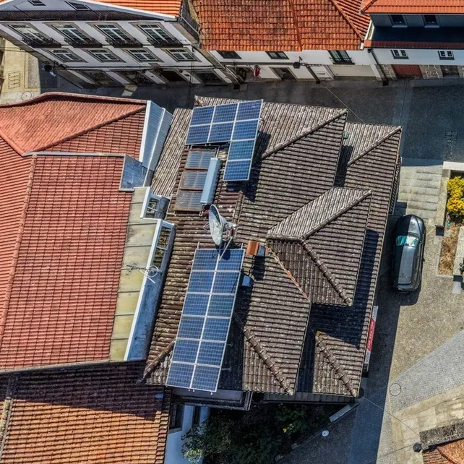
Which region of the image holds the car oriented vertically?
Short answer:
right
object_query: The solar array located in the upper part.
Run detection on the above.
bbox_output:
[185,100,268,184]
